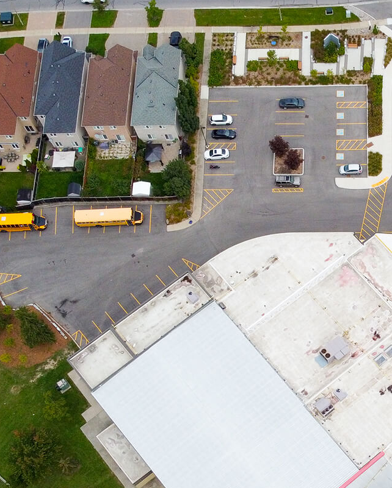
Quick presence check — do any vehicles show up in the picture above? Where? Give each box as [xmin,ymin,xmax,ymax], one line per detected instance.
[210,127,237,140]
[210,163,222,169]
[168,32,181,46]
[36,36,51,56]
[61,35,73,48]
[0,212,51,232]
[274,173,301,187]
[207,113,235,126]
[279,98,305,110]
[81,0,105,6]
[73,207,147,230]
[338,163,362,176]
[204,148,230,161]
